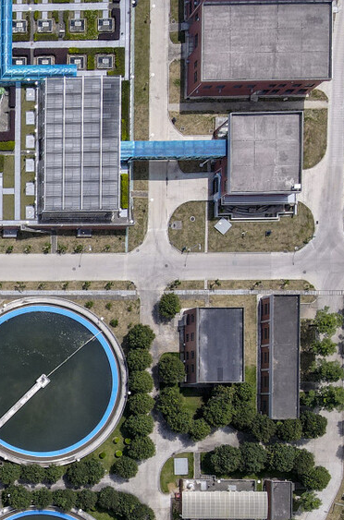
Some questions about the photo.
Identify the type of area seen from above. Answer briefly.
industrial area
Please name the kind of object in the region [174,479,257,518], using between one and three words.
building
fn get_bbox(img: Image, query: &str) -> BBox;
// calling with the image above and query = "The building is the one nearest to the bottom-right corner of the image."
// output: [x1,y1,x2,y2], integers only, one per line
[260,481,293,520]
